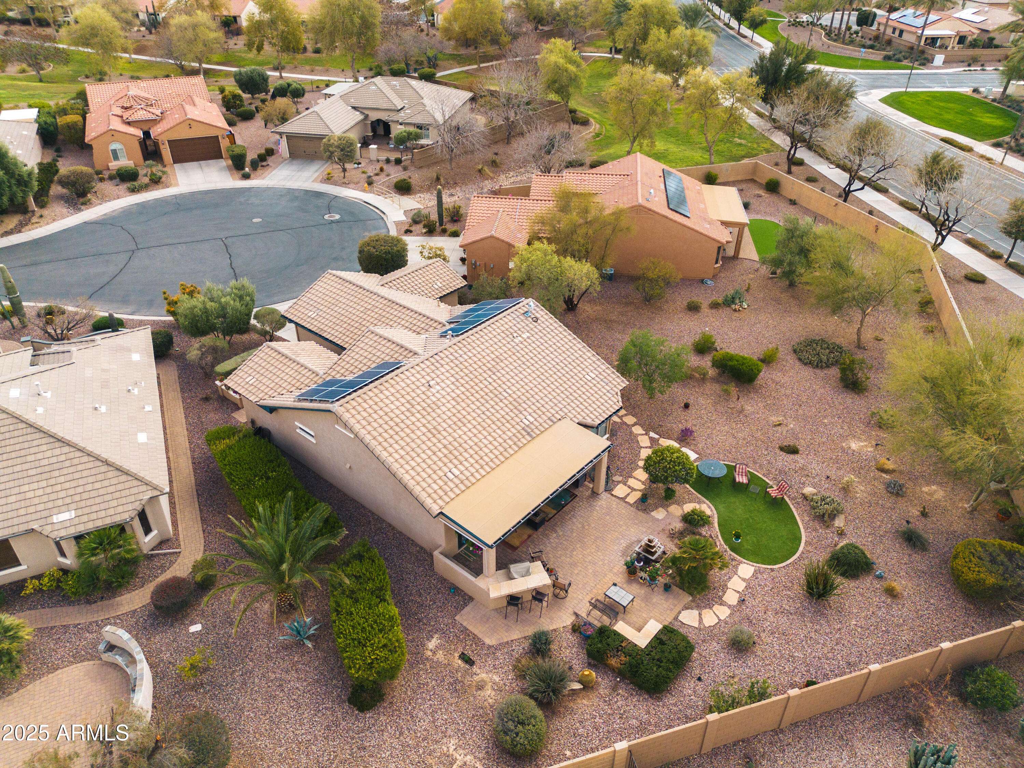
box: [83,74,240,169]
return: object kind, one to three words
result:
house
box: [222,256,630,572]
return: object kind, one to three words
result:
house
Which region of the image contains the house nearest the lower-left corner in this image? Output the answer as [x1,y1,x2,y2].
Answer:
[0,324,181,579]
